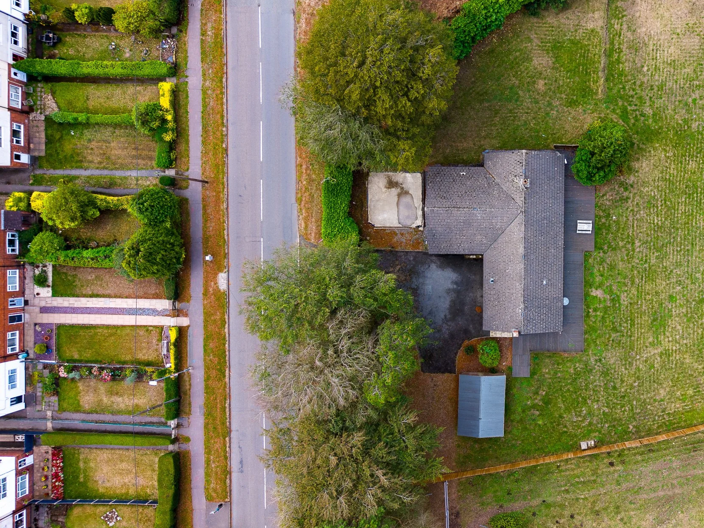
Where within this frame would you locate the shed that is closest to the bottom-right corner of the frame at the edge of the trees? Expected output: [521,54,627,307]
[458,372,506,439]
